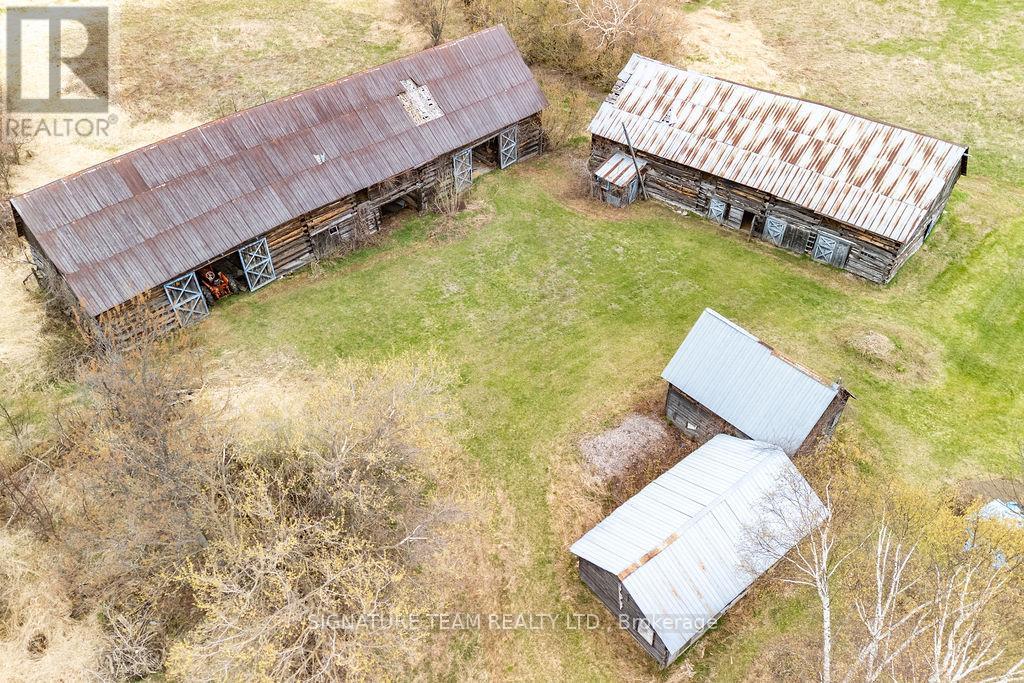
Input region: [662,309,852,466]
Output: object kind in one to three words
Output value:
shed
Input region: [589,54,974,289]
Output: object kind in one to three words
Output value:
barn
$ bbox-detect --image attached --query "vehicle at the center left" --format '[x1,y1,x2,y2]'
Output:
[196,268,243,305]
